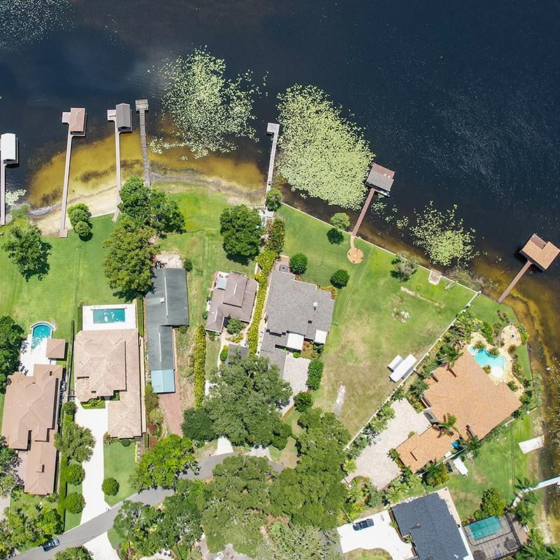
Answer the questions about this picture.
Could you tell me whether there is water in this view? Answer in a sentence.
Yes, the picture does contain water.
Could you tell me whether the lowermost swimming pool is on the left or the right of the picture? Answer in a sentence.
The lowermost swimming pool sits on the right side.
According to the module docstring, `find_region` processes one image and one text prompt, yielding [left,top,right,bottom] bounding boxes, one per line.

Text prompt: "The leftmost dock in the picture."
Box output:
[0,133,20,223]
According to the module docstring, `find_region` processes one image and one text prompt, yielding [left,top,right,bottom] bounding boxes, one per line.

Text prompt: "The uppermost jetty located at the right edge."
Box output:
[498,233,560,304]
